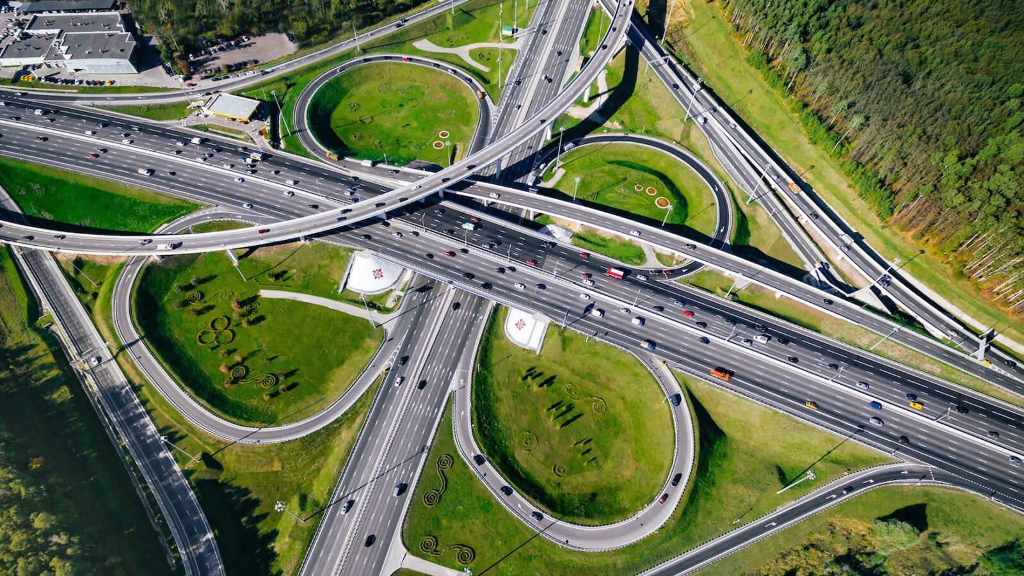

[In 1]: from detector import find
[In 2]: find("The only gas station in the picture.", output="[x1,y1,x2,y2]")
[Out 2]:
[208,94,261,123]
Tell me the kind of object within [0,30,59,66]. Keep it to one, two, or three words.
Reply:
building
